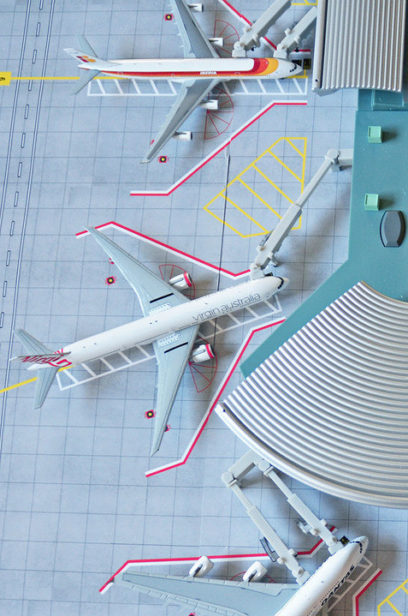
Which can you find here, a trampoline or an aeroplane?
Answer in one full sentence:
Visible in the photo is an aeroplane.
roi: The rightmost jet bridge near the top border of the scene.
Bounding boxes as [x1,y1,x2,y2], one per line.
[273,2,318,63]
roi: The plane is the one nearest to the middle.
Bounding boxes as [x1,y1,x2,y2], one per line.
[9,225,290,454]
